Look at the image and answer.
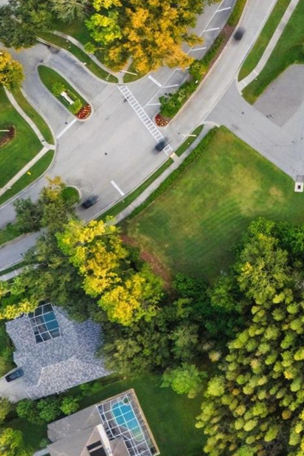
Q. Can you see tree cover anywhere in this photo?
Yes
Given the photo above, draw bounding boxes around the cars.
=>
[150,137,169,154]
[231,25,246,43]
[3,366,24,381]
[80,194,99,209]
